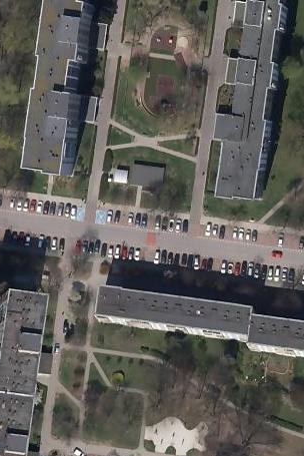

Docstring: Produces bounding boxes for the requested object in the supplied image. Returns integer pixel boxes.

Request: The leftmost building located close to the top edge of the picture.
[14,0,96,180]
